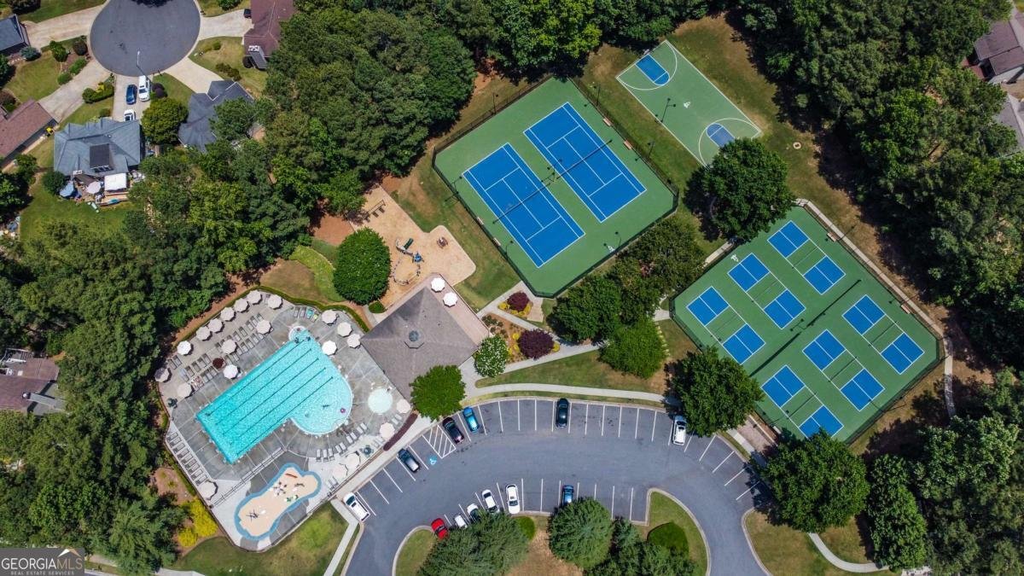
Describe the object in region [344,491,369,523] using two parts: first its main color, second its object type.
white car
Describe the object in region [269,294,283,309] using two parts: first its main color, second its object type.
white umbrella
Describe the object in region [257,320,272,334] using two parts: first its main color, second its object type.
white umbrella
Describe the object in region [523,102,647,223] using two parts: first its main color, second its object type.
blue tennis court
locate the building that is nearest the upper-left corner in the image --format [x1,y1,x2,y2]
[0,15,30,68]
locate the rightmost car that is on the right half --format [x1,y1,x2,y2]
[673,416,688,445]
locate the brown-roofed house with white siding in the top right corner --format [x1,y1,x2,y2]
[967,20,1024,85]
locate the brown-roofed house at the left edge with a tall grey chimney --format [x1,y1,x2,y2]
[0,355,71,415]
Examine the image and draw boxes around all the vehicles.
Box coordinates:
[560,483,573,510]
[481,486,501,516]
[137,74,151,100]
[124,107,136,123]
[442,419,464,444]
[506,483,520,514]
[465,500,485,530]
[450,509,467,533]
[462,405,479,434]
[428,514,450,544]
[240,7,250,19]
[124,83,138,105]
[344,491,369,523]
[673,416,688,445]
[555,399,569,427]
[398,446,421,475]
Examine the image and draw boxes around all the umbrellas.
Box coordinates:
[197,325,211,340]
[59,182,76,199]
[346,333,362,348]
[323,340,338,355]
[257,320,272,334]
[322,309,338,324]
[155,367,171,383]
[213,357,226,371]
[222,338,237,354]
[430,277,445,292]
[247,290,262,303]
[177,382,194,399]
[333,464,349,481]
[345,454,362,471]
[396,398,411,414]
[269,294,283,309]
[200,480,216,498]
[221,307,236,321]
[177,340,194,357]
[234,298,250,313]
[223,364,240,380]
[209,318,224,332]
[443,292,458,306]
[337,322,352,337]
[380,423,397,439]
